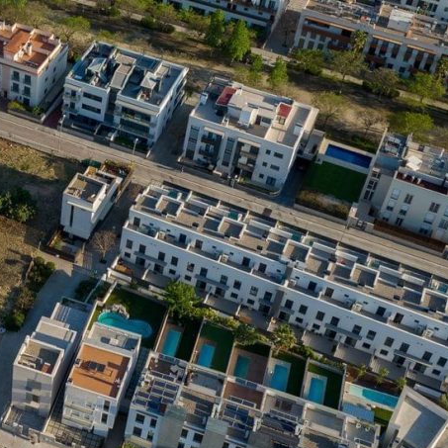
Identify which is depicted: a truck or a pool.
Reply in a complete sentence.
It is a pool that can be seen here.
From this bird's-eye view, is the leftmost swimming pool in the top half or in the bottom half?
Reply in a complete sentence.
The bottom half of the photo is where the leftmost swimming pool is.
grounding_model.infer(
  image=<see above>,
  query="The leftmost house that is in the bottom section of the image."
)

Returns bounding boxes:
[12,317,89,416]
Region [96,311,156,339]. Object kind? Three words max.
swimming pool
